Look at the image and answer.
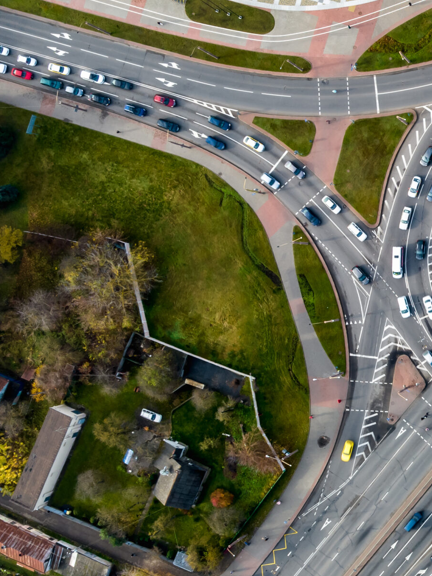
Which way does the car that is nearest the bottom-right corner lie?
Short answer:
diagonally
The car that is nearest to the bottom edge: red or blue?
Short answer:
blue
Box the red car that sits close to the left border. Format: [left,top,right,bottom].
[11,67,35,81]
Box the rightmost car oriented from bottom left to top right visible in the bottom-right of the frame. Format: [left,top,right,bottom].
[403,513,424,534]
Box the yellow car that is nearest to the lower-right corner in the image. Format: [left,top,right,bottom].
[341,439,354,462]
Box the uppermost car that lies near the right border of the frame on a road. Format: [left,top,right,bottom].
[419,145,432,166]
